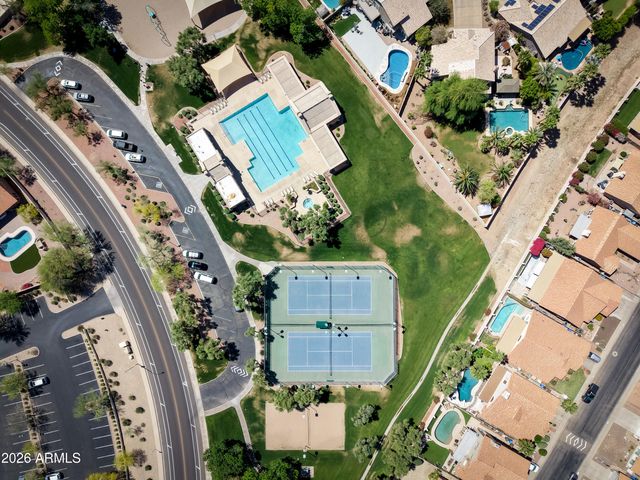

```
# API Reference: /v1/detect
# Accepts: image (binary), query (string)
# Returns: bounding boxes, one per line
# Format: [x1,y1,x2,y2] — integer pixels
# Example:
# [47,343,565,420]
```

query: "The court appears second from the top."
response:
[267,325,394,384]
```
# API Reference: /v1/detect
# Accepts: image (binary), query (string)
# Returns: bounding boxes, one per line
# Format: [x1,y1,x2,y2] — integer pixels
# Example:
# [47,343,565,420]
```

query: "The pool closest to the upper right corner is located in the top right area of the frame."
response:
[560,38,596,72]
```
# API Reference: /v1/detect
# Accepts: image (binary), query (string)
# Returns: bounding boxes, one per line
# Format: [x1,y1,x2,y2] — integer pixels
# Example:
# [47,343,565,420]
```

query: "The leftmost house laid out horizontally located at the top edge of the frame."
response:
[356,0,431,34]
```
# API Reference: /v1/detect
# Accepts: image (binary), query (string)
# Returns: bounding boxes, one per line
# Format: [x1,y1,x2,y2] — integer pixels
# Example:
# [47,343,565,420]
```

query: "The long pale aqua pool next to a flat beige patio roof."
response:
[489,298,518,334]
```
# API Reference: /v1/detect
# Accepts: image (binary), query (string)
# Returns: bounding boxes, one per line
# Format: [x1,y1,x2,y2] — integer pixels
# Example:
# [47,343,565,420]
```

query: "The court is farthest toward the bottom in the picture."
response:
[265,402,346,452]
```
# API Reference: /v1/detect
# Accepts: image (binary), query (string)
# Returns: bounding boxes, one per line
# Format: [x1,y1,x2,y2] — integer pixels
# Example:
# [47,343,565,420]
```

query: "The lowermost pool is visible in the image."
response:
[434,410,460,445]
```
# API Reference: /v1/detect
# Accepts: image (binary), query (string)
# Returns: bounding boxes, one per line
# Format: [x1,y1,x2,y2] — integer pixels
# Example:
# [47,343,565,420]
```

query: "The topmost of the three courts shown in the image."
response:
[267,266,394,325]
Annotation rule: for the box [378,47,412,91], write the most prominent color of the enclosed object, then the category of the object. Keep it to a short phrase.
blue swimming pool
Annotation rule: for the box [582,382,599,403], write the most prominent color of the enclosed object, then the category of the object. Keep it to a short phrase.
black vehicle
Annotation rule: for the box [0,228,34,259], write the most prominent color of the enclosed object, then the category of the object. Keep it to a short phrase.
blue swimming pool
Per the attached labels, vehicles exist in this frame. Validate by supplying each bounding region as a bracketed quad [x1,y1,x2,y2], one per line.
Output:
[587,351,601,362]
[74,93,92,102]
[528,462,541,473]
[184,250,202,258]
[46,472,64,480]
[569,472,580,480]
[115,141,136,151]
[127,152,144,161]
[30,378,49,388]
[582,382,599,403]
[61,80,79,89]
[108,130,126,139]
[196,273,214,283]
[189,261,207,269]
